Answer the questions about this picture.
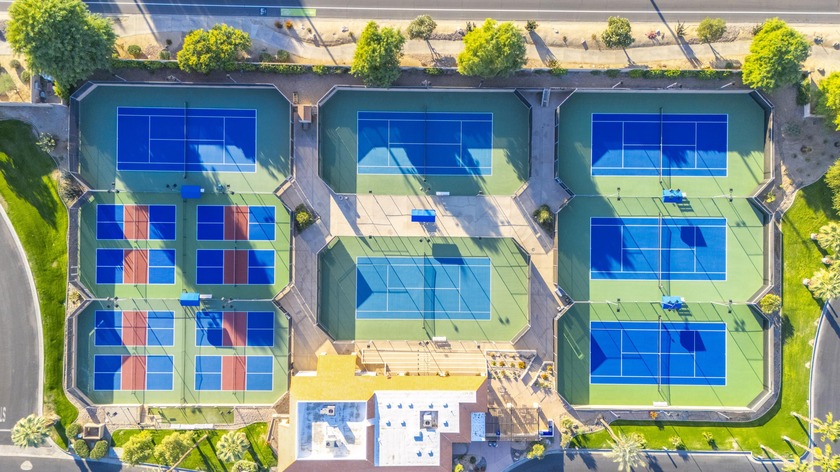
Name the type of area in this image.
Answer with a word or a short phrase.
sports ground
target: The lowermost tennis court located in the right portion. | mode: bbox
[561,302,764,406]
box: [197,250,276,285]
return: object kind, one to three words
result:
sports court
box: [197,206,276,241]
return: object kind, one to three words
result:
sports court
